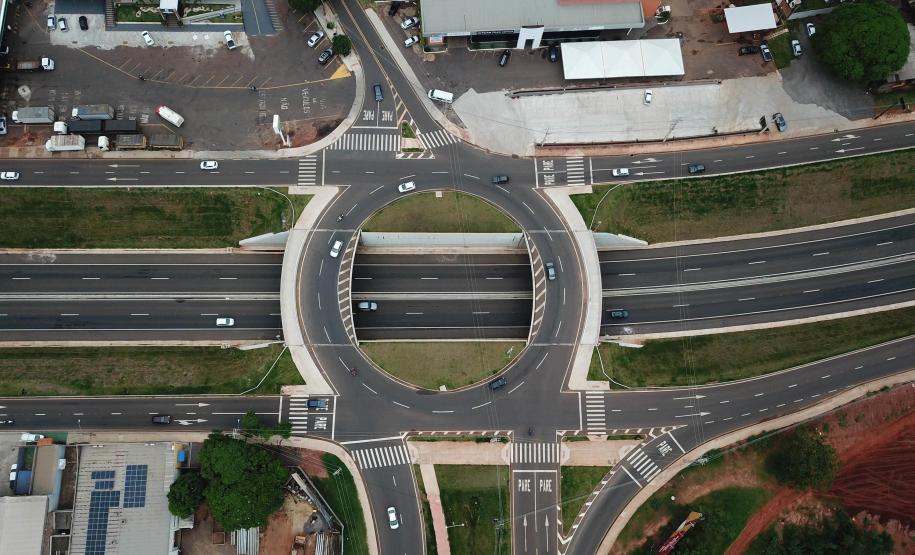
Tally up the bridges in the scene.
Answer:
2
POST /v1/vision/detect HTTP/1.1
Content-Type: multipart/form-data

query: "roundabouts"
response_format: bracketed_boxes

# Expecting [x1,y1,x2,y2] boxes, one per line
[285,110,600,450]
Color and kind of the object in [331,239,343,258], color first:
white vehicle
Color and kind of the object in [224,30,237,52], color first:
white vehicle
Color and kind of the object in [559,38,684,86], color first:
white tent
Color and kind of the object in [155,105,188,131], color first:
white truck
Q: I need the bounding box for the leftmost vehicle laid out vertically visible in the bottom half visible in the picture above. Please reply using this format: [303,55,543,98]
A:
[7,463,21,490]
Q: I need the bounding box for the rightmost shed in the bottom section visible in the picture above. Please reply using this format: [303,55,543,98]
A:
[292,473,334,526]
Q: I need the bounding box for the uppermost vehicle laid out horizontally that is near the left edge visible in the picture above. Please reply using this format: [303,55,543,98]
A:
[8,58,57,73]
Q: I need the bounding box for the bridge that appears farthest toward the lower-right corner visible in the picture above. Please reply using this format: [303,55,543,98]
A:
[525,227,603,349]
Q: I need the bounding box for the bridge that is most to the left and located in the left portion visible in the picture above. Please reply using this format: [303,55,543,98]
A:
[280,225,361,349]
